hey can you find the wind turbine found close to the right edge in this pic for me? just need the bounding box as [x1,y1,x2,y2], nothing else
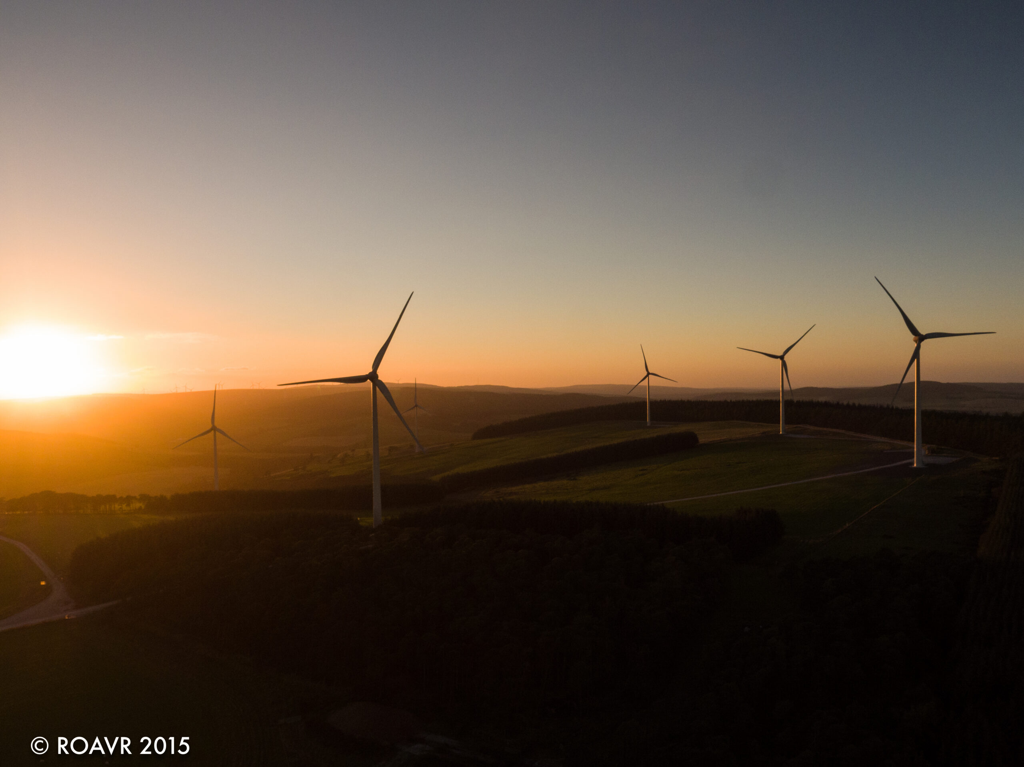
[880,276,999,469]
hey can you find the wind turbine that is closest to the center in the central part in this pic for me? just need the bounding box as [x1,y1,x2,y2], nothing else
[391,378,438,448]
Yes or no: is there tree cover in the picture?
Yes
